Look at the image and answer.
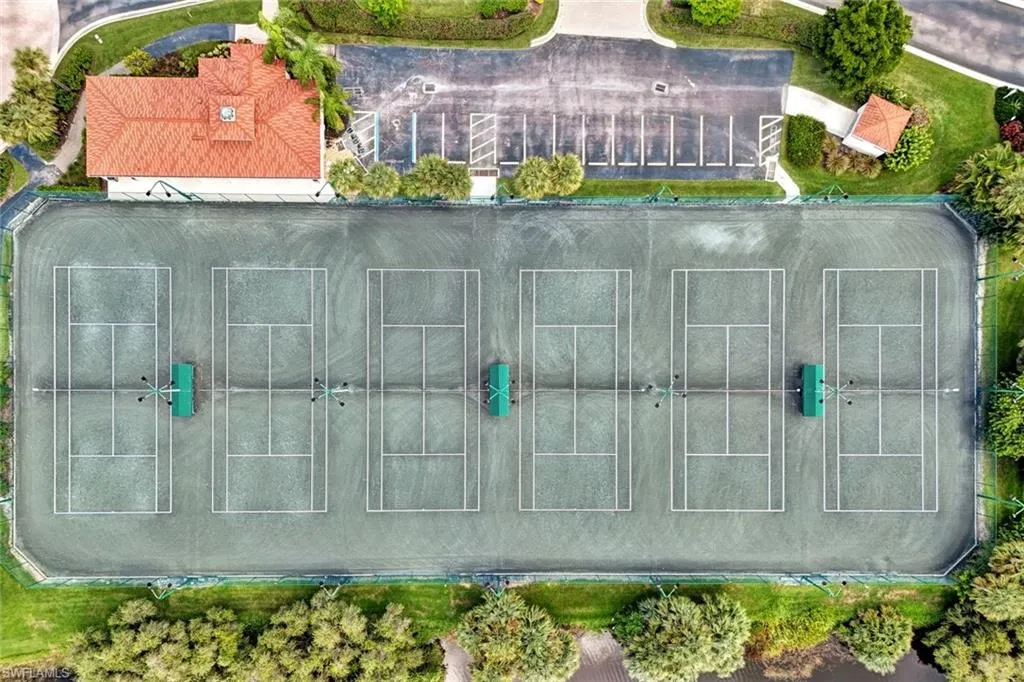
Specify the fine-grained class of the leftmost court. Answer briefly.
tennis court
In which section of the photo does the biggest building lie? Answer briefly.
top left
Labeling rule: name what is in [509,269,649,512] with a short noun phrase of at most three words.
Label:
tennis court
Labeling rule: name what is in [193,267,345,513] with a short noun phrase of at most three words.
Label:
tennis court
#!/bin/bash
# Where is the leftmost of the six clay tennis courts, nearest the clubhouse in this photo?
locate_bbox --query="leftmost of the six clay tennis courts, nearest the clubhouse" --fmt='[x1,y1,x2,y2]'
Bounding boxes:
[29,266,172,514]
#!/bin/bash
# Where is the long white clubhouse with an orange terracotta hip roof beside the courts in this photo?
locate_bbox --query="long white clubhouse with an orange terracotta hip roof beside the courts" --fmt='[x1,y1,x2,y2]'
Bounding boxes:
[85,42,327,185]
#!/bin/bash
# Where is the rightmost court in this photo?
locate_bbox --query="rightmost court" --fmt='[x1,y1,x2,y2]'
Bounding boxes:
[824,269,957,513]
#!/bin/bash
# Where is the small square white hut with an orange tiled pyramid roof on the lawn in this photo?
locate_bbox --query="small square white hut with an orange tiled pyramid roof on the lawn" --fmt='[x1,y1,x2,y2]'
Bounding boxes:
[843,93,914,158]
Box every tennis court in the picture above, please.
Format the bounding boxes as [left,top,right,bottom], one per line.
[348,269,489,512]
[670,269,802,512]
[29,266,172,514]
[193,267,345,513]
[509,269,649,512]
[824,269,957,513]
